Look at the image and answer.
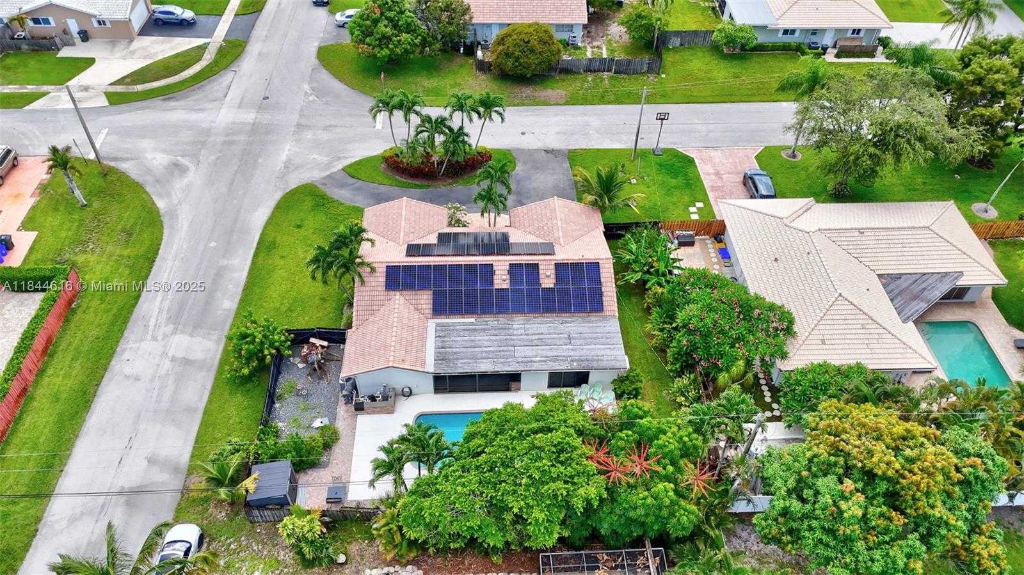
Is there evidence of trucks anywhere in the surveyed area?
No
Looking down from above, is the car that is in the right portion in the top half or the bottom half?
top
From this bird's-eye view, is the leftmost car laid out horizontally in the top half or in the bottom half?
top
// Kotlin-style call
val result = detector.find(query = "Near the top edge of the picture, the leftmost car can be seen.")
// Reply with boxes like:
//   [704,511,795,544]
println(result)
[149,4,198,26]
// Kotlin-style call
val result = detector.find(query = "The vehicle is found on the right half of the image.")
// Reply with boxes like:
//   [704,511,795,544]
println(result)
[737,169,775,199]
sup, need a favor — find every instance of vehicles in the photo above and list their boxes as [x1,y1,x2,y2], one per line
[737,169,775,199]
[0,147,19,183]
[336,7,378,27]
[149,4,198,26]
[140,523,202,575]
